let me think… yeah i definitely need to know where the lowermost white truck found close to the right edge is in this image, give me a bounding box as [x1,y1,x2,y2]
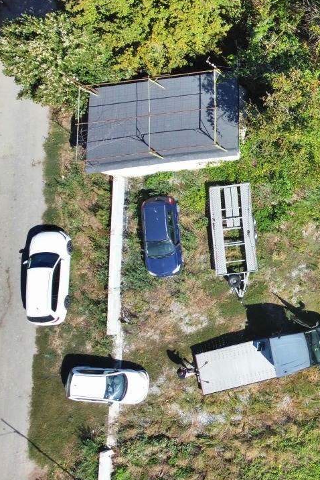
[196,312,320,396]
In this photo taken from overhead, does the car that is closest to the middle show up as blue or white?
blue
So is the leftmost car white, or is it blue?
white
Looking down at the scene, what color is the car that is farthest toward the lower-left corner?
white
